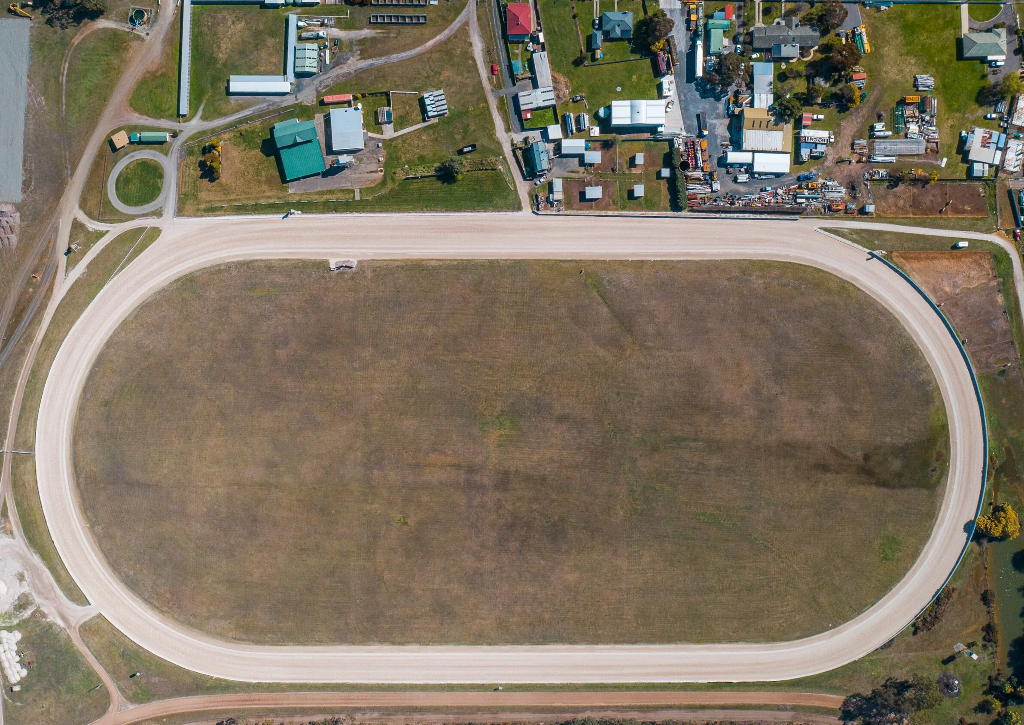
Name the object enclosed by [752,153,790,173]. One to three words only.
shed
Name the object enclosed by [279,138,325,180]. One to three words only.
building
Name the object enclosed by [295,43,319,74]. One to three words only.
shed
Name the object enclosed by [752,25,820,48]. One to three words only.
house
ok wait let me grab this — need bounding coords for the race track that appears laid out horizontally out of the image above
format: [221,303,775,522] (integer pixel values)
[35,216,988,683]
